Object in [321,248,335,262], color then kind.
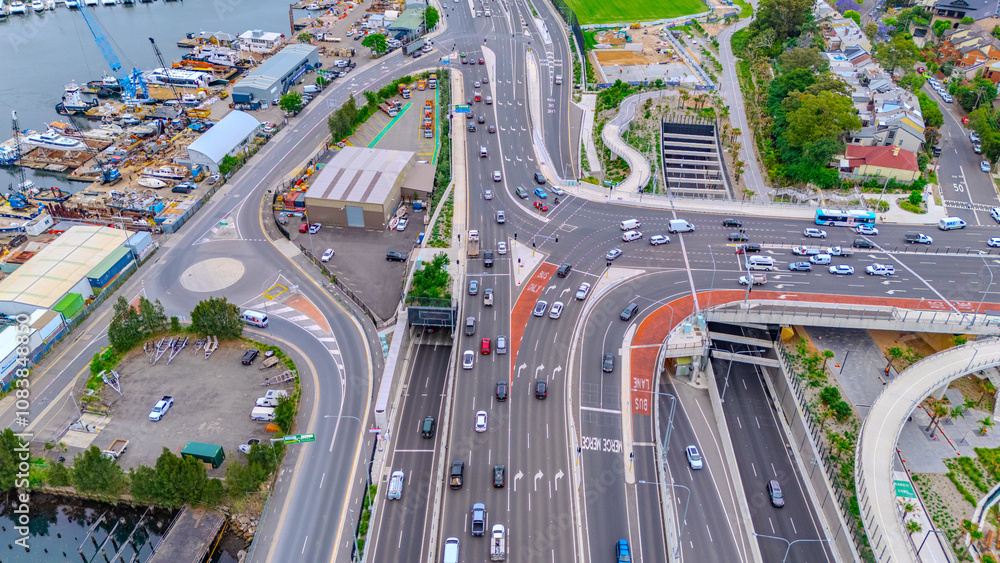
white vehicle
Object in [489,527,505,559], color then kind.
white vehicle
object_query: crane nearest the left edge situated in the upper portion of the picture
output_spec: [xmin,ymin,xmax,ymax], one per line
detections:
[2,107,31,217]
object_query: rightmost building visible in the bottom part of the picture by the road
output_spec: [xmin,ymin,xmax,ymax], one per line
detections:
[672,355,698,374]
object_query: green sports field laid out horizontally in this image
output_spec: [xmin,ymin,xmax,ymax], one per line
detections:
[566,0,748,26]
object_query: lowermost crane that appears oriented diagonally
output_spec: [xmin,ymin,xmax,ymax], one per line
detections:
[63,104,127,188]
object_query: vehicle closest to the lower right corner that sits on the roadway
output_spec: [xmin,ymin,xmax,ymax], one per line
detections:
[767,480,783,505]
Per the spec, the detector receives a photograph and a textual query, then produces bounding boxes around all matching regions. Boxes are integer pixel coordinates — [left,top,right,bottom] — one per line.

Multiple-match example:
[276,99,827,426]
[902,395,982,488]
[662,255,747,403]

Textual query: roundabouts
[180,257,245,292]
